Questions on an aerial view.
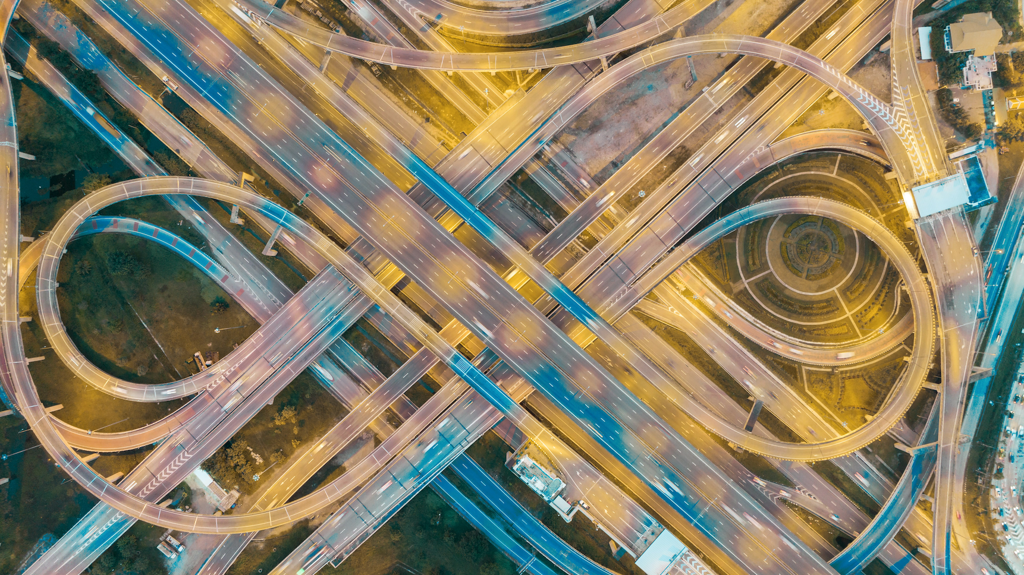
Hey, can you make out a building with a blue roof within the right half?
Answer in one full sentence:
Yes, a building with a blue roof can be seen within the right half.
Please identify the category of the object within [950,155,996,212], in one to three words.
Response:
building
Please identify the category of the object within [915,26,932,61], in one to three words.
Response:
shed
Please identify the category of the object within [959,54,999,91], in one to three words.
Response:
building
